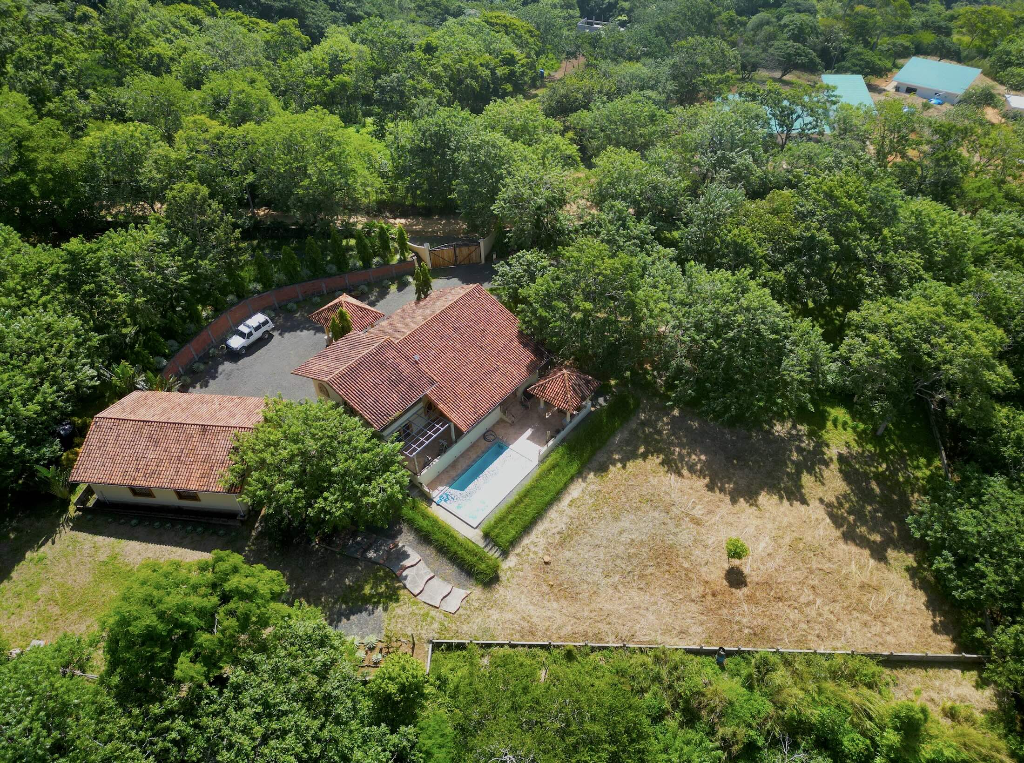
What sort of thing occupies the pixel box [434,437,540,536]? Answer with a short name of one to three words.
swimming pool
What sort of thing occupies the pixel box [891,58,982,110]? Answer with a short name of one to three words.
house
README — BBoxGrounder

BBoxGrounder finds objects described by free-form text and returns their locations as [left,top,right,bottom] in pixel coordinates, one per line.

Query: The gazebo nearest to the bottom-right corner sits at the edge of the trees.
[524,360,602,425]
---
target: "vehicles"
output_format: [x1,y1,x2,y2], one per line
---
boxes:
[219,311,273,357]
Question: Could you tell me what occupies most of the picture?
trees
